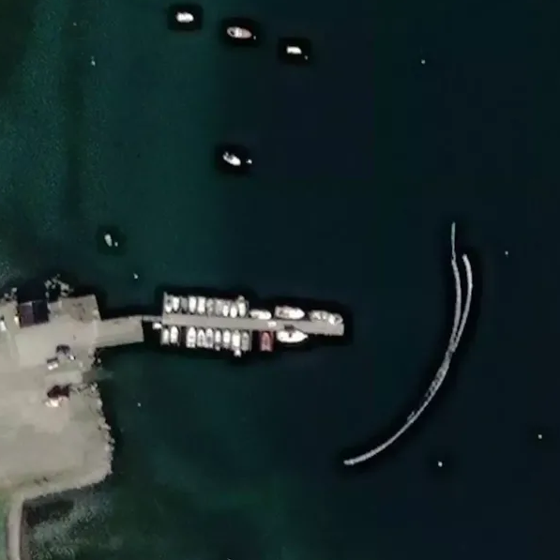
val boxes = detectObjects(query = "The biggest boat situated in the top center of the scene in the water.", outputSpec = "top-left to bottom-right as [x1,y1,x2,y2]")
[227,25,251,39]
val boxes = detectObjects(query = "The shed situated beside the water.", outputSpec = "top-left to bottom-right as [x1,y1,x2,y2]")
[17,298,50,328]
